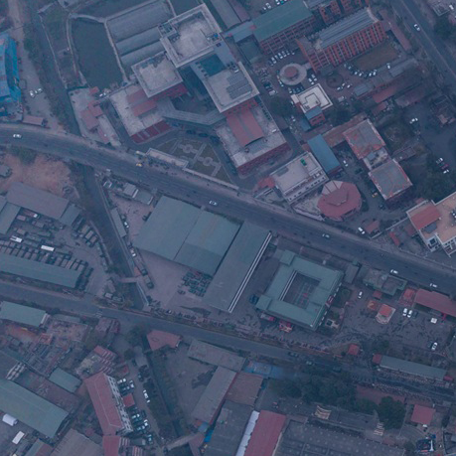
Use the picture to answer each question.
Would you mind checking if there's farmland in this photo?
No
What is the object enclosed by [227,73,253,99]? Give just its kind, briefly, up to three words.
solar panel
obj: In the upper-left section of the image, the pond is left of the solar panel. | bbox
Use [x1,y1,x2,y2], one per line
[68,10,125,91]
